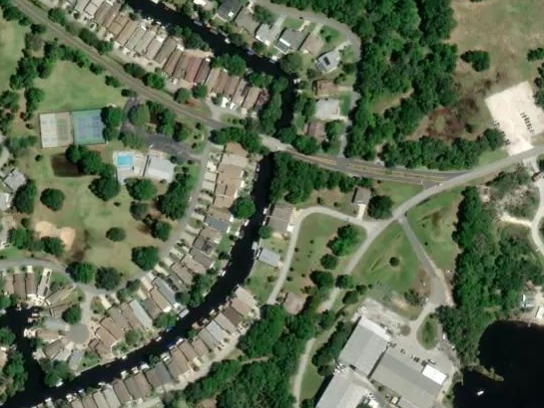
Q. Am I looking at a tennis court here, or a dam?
tennis court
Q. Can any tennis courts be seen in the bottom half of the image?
No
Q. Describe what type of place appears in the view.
residential area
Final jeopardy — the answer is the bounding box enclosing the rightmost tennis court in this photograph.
[71,109,104,145]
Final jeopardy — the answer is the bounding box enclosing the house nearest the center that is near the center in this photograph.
[266,203,289,233]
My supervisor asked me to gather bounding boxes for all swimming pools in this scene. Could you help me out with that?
[116,153,133,166]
